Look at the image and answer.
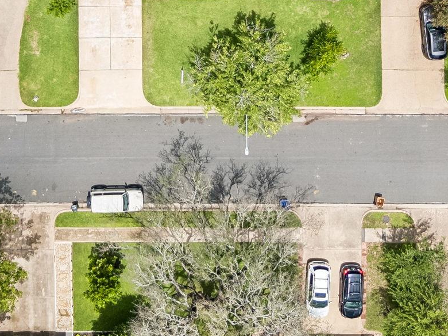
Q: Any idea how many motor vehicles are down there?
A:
4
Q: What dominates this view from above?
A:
paved ground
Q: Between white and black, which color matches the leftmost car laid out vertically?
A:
white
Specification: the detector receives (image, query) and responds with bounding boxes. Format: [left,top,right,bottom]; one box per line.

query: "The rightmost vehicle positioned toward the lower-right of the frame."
[338,260,364,315]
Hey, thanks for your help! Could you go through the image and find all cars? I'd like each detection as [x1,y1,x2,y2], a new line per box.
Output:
[86,184,141,212]
[306,258,332,316]
[417,3,446,60]
[338,260,364,315]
